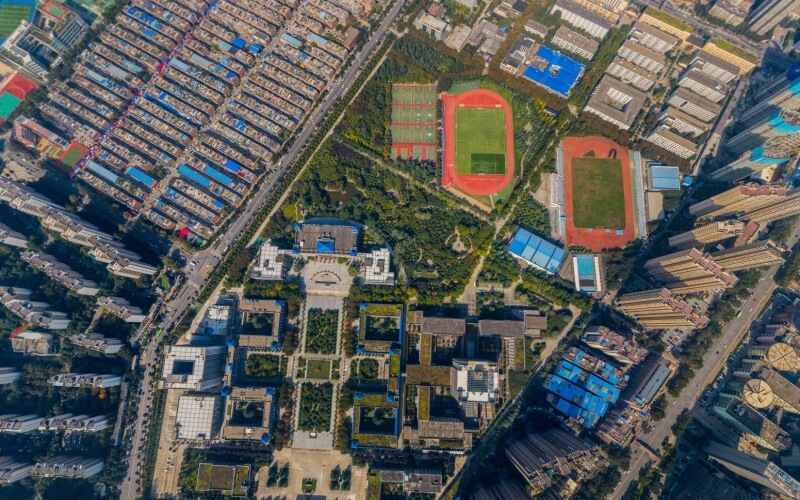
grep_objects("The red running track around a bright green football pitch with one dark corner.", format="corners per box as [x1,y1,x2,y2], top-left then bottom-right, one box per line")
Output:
[442,89,514,195]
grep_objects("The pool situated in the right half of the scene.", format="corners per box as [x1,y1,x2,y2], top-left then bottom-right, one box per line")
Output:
[573,256,604,292]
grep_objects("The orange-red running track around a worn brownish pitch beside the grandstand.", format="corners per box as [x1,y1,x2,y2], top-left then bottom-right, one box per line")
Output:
[563,135,634,252]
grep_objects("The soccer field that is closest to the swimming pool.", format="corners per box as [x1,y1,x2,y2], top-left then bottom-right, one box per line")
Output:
[572,157,626,229]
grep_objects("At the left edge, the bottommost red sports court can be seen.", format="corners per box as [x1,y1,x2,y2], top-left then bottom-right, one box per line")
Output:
[0,73,37,98]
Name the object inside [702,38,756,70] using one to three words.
building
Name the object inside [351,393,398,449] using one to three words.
building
